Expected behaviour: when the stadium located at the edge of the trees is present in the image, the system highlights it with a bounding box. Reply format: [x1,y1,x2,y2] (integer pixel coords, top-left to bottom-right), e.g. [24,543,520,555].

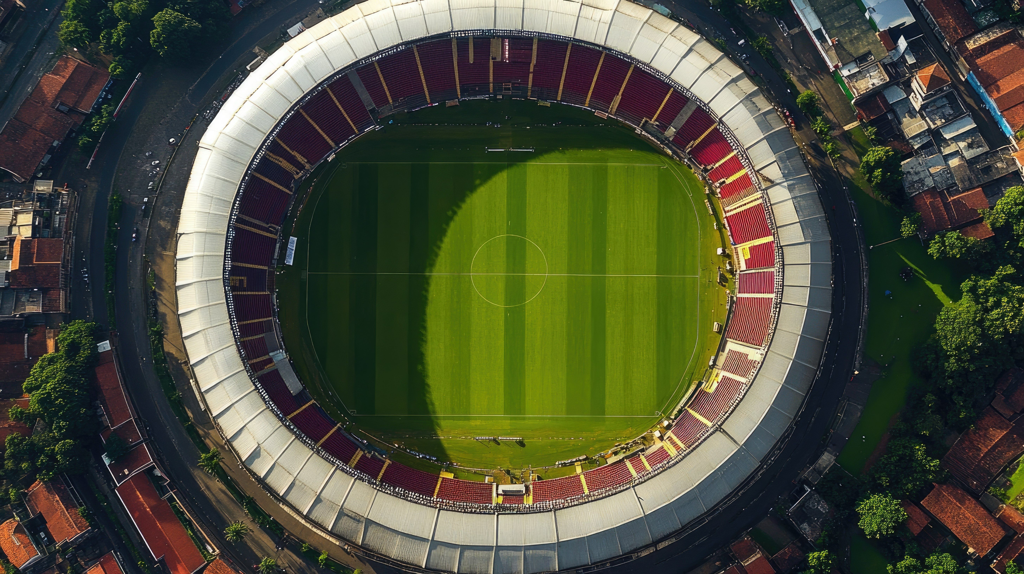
[173,0,835,574]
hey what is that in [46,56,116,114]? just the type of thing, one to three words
house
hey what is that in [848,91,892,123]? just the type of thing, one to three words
house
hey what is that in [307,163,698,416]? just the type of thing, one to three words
sports field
